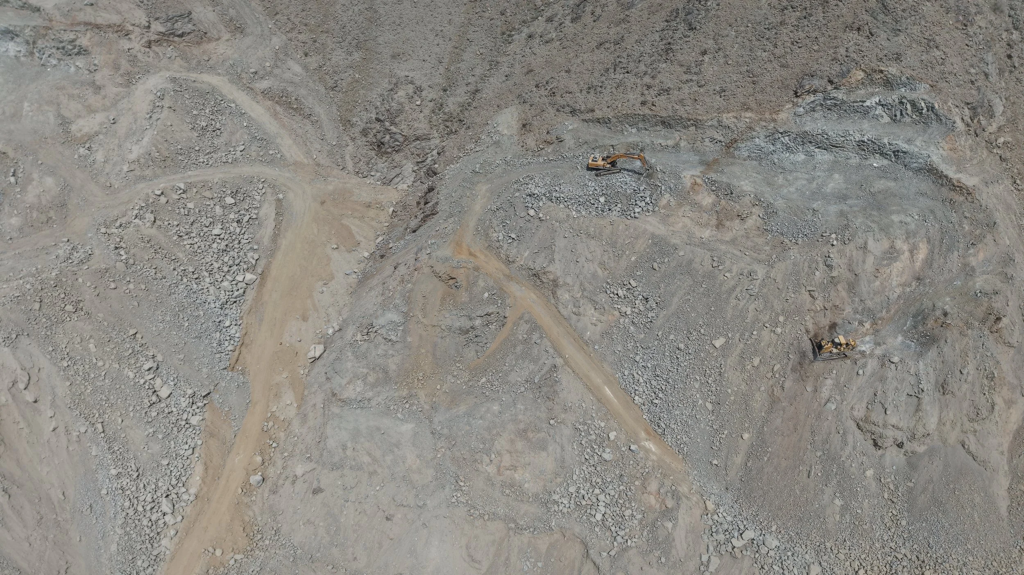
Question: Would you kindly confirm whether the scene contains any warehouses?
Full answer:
No, no warehouse can be seen from above.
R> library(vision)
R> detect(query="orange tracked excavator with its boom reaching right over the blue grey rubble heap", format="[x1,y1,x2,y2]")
[588,152,652,179]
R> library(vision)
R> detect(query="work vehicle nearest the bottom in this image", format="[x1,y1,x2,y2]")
[808,333,858,364]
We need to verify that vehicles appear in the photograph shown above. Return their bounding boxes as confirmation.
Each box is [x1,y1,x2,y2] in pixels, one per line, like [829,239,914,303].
[588,152,652,179]
[808,333,858,364]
